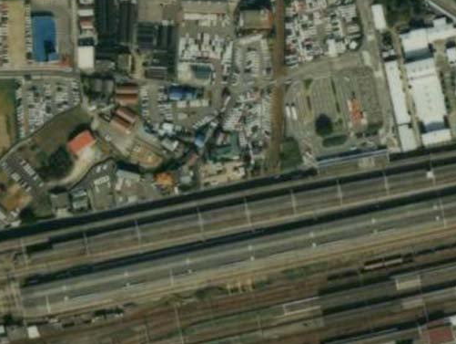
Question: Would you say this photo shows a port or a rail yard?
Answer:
rail yard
